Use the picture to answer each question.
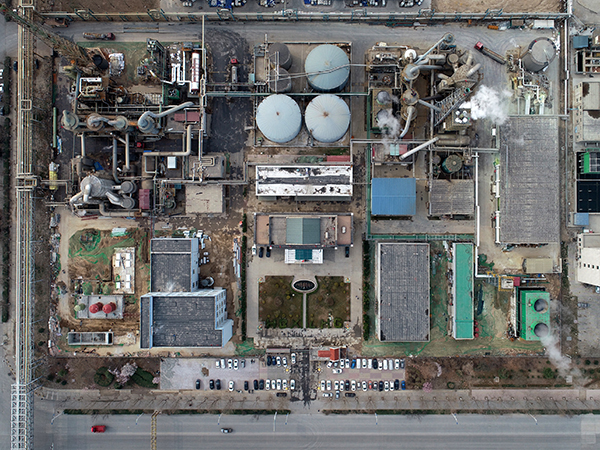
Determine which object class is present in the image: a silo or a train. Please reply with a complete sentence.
This aerial view contains a silo.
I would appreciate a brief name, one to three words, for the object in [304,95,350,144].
storage tank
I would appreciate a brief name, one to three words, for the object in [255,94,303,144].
storage tank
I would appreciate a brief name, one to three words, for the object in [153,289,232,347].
building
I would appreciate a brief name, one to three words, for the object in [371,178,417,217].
shed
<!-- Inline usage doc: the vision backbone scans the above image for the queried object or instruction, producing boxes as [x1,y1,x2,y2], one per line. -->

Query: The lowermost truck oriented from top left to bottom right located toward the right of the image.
[473,41,508,65]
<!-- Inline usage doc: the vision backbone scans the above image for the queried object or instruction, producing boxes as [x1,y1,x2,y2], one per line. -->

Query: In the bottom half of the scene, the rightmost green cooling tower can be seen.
[515,285,551,342]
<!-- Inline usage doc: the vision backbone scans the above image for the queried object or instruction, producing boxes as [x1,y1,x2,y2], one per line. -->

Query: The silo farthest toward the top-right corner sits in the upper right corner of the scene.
[517,34,563,75]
